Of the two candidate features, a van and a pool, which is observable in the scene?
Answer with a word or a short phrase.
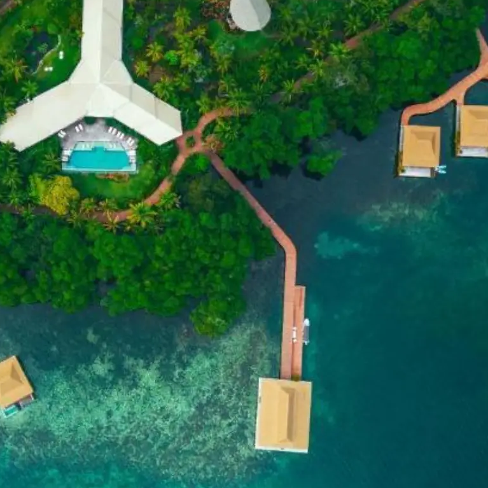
pool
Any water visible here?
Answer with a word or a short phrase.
Yes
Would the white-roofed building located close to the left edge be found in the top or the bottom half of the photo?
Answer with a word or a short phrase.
top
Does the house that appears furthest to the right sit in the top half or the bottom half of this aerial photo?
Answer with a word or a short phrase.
top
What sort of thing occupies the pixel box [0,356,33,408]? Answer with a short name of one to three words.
house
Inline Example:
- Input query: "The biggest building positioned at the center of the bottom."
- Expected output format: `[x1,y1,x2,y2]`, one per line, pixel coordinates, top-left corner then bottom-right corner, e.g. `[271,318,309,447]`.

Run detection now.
[253,377,313,452]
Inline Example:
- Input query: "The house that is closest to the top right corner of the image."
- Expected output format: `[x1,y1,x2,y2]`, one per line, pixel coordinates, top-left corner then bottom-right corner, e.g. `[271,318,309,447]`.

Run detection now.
[456,105,488,157]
